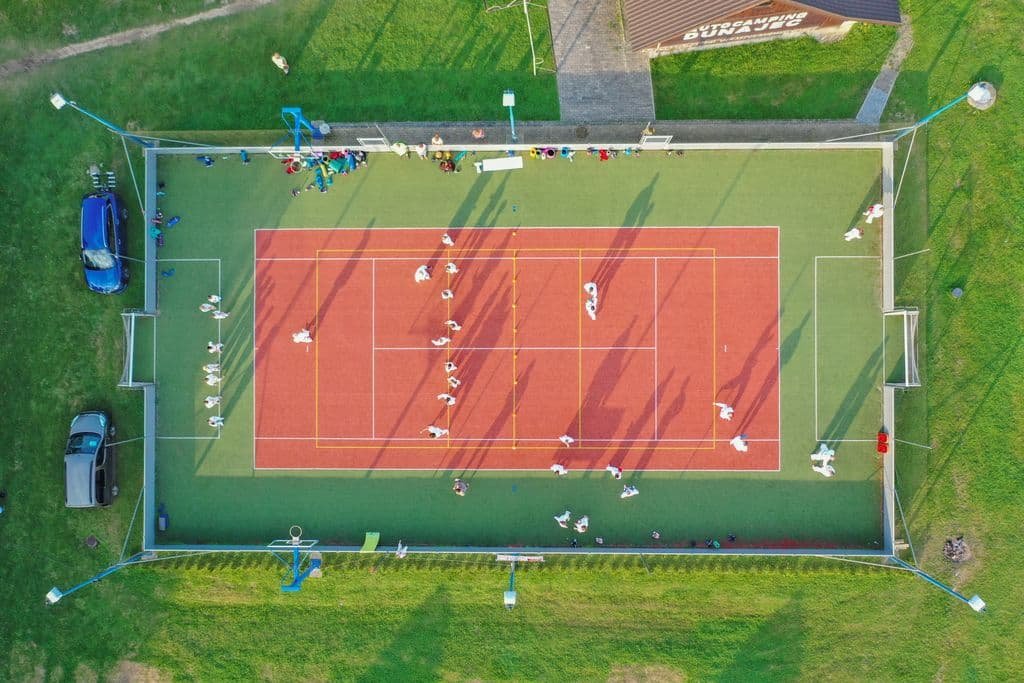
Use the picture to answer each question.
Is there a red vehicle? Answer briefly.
No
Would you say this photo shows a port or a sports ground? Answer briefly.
sports ground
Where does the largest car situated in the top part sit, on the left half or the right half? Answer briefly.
left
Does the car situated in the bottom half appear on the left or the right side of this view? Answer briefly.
left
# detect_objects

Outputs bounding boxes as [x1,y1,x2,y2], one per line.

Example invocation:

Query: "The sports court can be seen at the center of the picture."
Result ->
[128,148,913,550]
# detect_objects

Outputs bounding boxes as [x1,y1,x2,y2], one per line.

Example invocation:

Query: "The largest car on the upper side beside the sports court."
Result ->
[79,192,130,293]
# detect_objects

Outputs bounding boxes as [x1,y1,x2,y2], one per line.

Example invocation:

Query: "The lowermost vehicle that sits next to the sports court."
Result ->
[65,412,117,507]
